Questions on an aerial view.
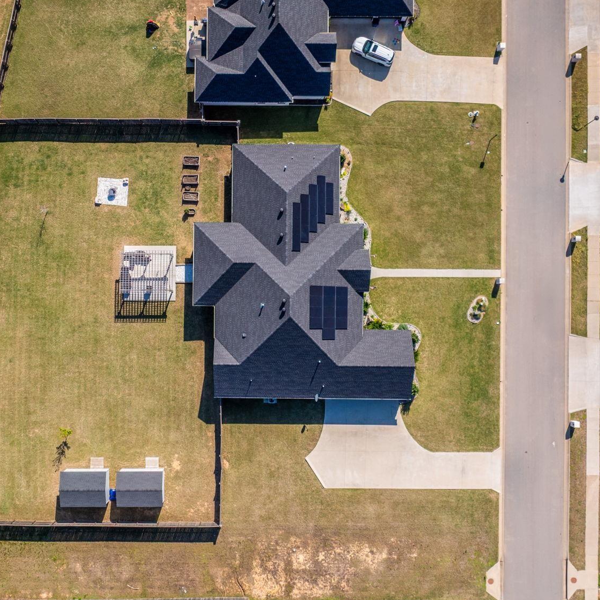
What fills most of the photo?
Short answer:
grass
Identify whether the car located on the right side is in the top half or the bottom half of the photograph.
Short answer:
top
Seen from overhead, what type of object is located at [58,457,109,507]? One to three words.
shed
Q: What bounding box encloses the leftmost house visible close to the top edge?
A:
[194,0,415,105]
